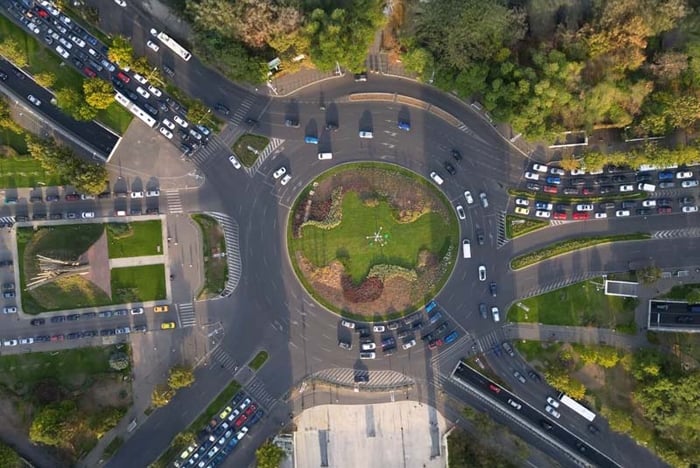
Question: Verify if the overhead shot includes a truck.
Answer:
Yes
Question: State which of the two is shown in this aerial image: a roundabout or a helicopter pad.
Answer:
roundabout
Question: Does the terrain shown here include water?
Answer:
No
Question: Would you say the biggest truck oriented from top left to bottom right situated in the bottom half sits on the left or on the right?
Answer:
right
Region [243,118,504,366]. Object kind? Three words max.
roundabout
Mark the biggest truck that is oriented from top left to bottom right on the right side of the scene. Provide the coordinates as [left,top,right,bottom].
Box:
[554,392,599,424]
